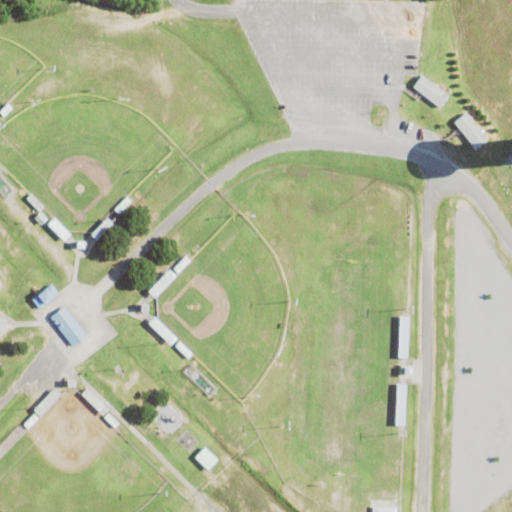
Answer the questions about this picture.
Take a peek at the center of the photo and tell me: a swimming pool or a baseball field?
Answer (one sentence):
The one visible at the center of the photo is a baseball field.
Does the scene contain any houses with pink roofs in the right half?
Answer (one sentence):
No, no house with a pink roof appears in the right half.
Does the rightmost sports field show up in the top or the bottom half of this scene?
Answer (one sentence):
The bottom half of the photo is where the rightmost sports field is.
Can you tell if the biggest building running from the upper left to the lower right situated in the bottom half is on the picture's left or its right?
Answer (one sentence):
The biggest building running from the upper left to the lower right situated in the bottom half sits on the left side.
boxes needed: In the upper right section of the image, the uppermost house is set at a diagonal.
[412,76,449,108]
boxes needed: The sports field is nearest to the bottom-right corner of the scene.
[291,256,397,480]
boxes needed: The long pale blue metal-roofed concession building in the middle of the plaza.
[50,306,87,346]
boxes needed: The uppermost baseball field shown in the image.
[0,37,44,112]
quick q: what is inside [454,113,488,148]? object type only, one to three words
house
